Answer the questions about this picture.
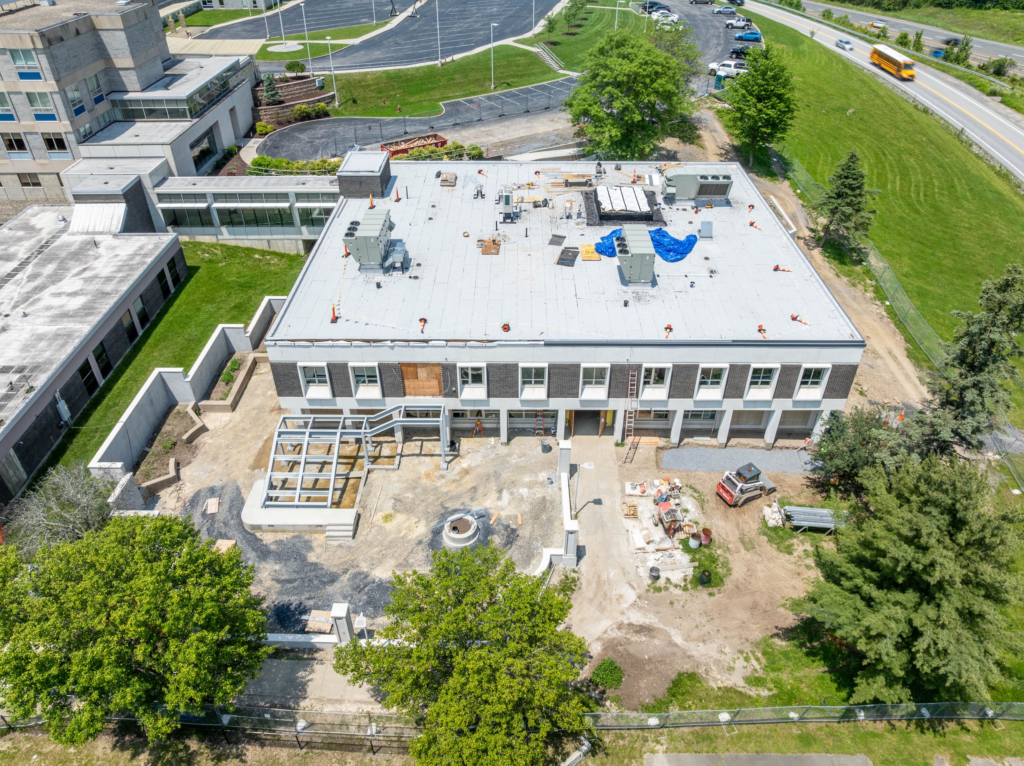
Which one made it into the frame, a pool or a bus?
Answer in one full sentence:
There is a bus in the scene.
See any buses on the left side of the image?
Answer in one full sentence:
No, no bus appears on the left side of the image.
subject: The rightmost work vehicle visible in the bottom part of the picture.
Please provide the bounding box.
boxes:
[715,458,782,508]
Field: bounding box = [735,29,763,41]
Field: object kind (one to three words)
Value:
vehicle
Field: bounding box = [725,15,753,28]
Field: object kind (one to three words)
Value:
vehicle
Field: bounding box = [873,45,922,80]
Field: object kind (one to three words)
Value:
bus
